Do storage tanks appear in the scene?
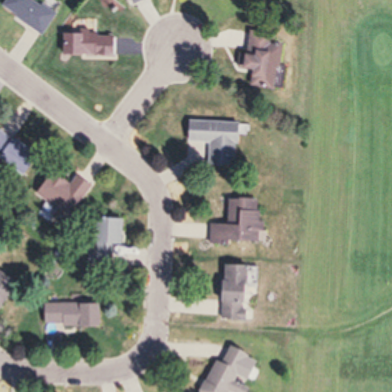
No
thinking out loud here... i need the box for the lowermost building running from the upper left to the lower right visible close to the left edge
[0,127,34,170]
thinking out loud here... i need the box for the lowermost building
[200,346,259,392]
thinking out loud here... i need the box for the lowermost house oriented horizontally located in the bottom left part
[44,302,101,328]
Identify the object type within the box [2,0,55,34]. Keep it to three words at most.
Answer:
house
